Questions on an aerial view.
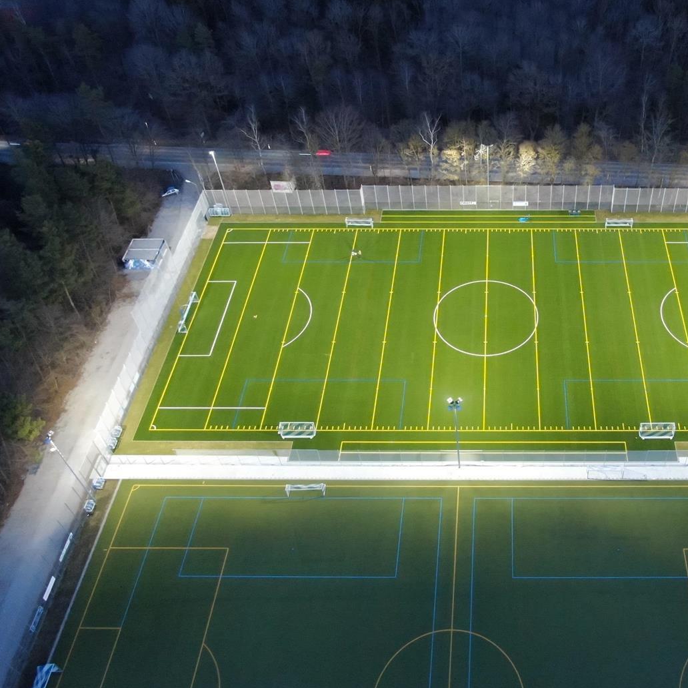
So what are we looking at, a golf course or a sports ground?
sports ground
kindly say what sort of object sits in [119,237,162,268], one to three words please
shed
